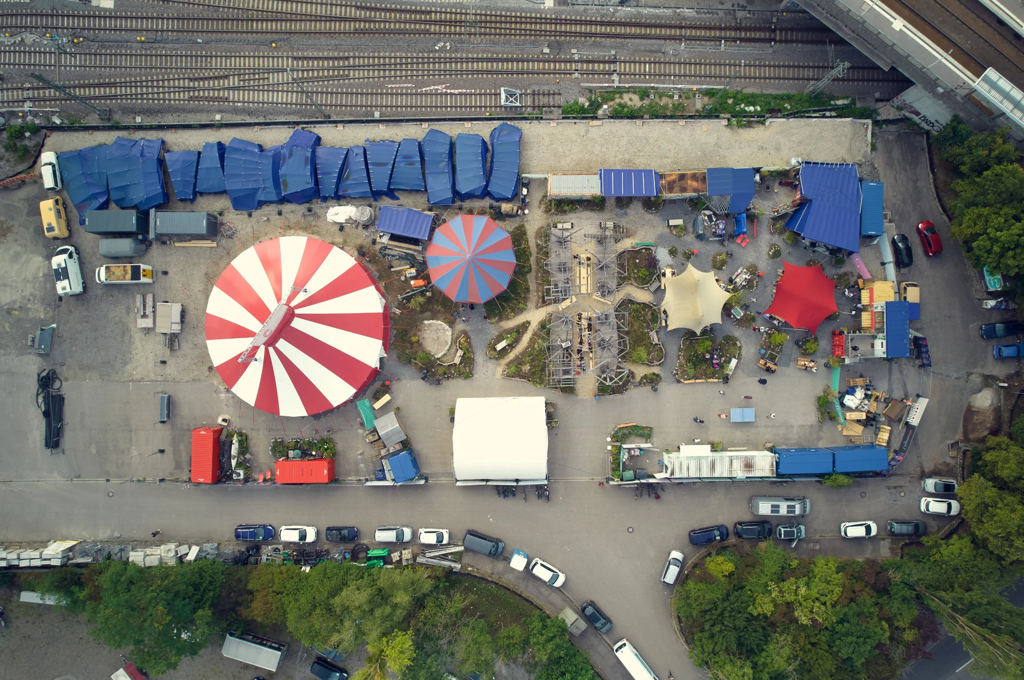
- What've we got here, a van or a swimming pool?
van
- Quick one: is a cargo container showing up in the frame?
Yes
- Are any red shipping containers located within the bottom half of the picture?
Yes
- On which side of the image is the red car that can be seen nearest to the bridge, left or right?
right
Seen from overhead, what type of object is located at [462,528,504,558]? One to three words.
van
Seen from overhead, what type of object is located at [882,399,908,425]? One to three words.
shed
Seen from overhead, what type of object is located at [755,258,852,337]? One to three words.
tent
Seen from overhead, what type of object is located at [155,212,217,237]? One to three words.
shipping container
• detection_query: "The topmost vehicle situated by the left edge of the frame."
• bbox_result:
[42,153,68,195]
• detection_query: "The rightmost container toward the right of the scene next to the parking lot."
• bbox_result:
[824,446,887,472]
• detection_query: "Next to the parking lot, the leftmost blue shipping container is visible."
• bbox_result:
[771,449,833,475]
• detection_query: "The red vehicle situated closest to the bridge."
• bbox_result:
[915,221,943,258]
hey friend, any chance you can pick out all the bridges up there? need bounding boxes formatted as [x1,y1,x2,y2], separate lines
[781,0,1024,176]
